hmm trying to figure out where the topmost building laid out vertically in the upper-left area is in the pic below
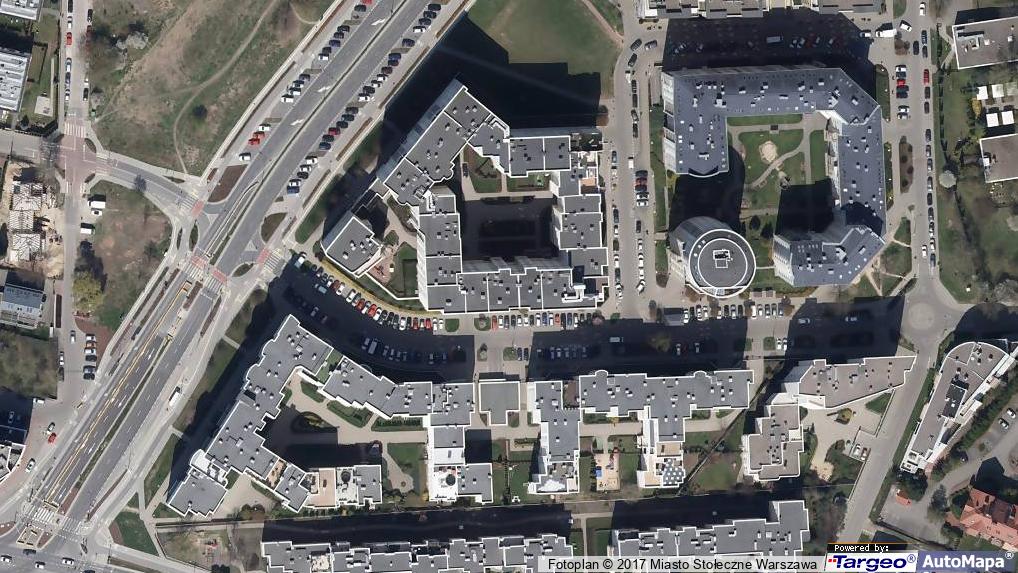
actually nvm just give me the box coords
[0,50,29,110]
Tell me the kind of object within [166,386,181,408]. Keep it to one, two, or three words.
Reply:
vehicle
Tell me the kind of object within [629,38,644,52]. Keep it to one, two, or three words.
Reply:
vehicle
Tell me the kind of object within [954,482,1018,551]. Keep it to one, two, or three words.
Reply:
house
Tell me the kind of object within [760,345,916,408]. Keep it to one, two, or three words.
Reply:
building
